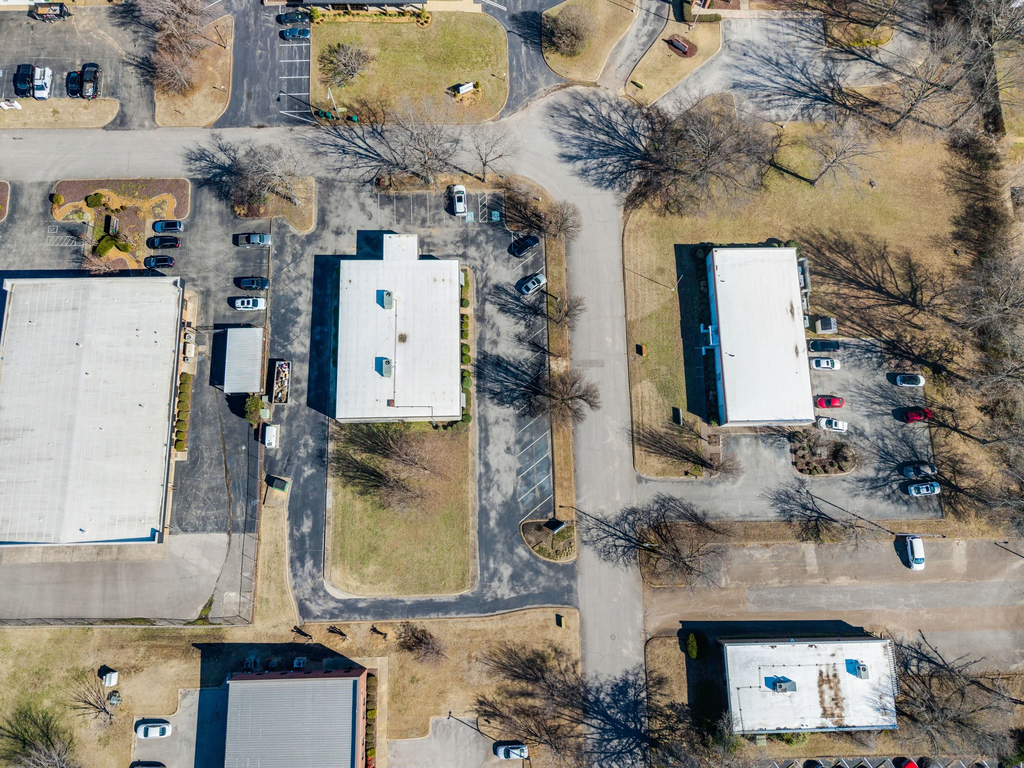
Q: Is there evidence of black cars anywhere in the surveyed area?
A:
Yes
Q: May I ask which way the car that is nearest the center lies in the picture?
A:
at an angle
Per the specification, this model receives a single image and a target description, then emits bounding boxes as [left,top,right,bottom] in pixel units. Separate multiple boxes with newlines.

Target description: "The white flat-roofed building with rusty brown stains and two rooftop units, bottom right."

[718,634,902,733]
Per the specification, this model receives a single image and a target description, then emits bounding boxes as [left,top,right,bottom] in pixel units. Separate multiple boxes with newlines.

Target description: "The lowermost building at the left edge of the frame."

[0,277,188,545]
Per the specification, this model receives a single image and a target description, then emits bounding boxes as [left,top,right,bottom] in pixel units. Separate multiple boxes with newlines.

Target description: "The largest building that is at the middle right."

[691,248,815,423]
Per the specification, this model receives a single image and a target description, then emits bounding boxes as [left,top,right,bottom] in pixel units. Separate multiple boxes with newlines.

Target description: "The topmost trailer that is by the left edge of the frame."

[28,2,72,22]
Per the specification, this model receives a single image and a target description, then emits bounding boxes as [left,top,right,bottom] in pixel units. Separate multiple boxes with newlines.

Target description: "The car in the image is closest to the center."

[520,274,547,296]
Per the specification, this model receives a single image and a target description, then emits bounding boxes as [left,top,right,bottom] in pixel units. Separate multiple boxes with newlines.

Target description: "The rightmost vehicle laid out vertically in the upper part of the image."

[453,187,467,216]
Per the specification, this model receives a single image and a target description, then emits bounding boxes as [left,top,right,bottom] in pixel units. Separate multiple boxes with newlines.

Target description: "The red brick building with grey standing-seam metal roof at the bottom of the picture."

[224,670,367,768]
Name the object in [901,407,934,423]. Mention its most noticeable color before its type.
red car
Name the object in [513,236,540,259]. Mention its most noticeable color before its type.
black car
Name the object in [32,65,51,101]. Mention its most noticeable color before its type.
white vehicle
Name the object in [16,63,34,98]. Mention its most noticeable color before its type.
black vehicle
